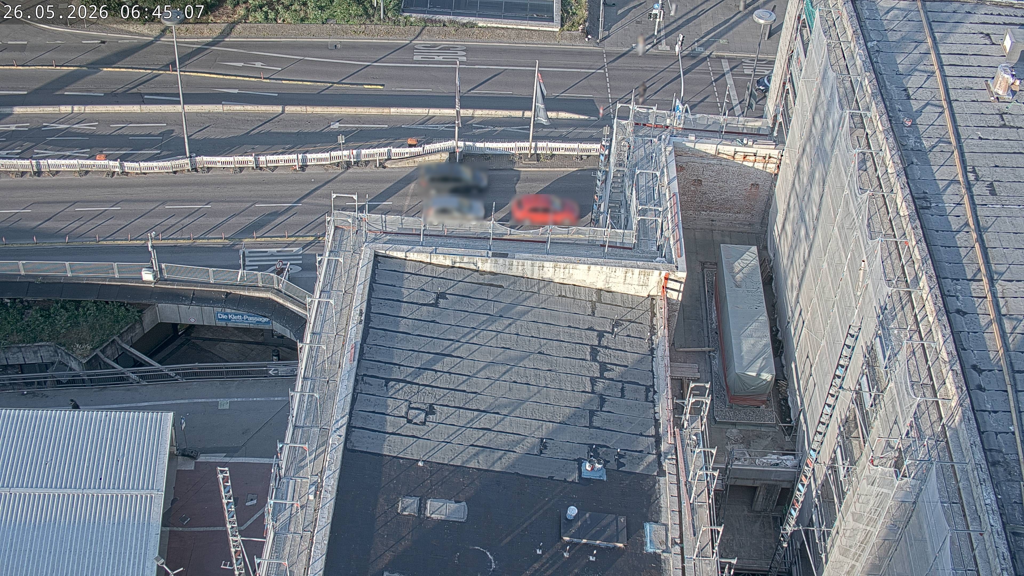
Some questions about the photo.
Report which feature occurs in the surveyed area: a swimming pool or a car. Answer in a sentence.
The one in the frame is a car.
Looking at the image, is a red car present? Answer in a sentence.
Yes, I can see a red car in this picture.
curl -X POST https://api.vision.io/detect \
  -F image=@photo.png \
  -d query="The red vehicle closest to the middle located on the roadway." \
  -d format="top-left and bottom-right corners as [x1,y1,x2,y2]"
[509,190,581,228]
